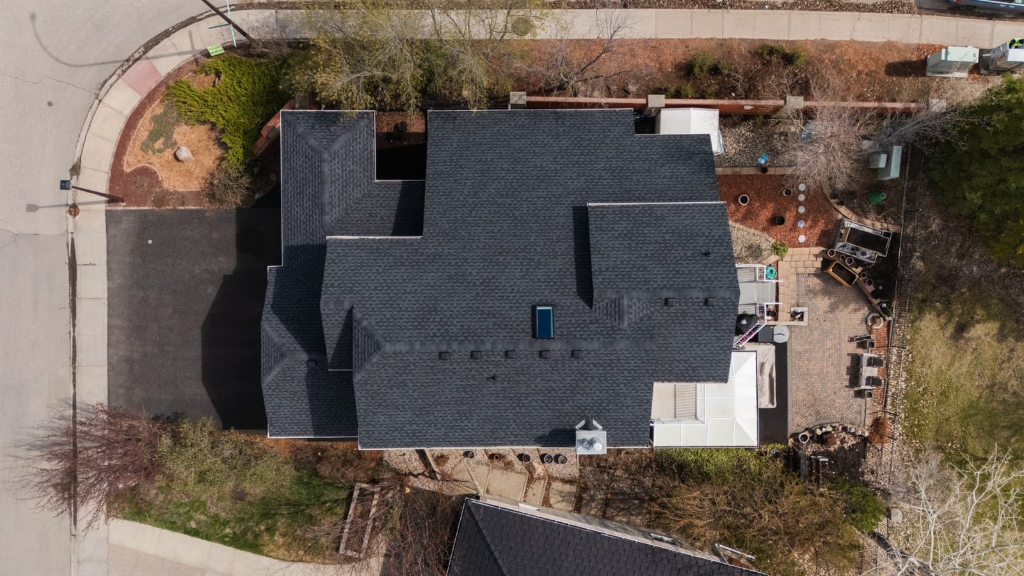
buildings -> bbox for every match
[259,107,738,454]
[448,484,832,576]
